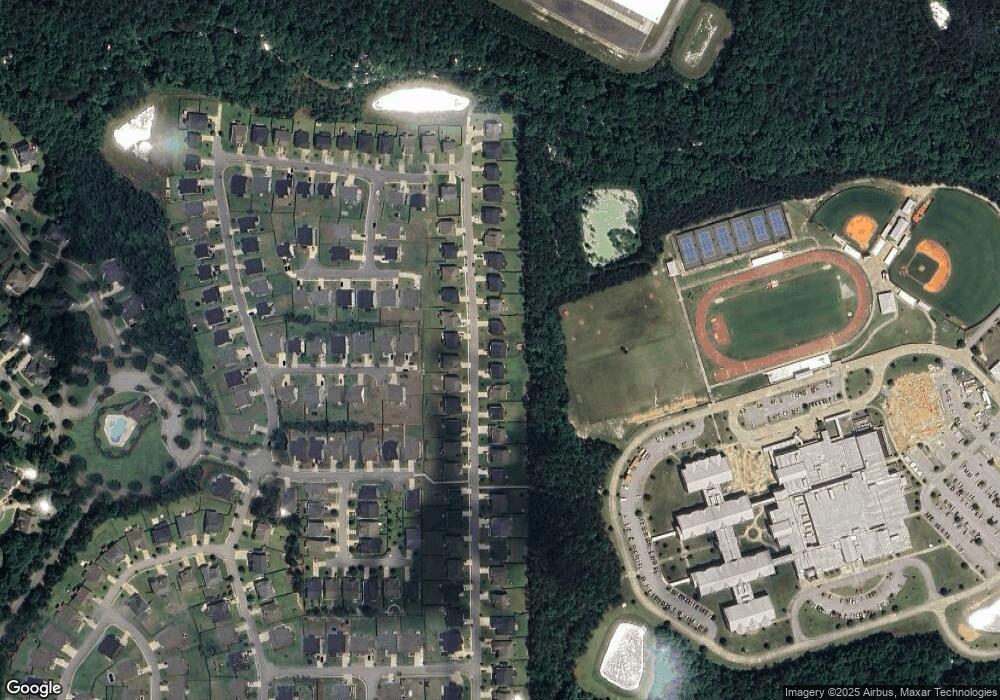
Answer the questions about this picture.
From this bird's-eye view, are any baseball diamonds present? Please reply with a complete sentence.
Yes, this view includes a baseball diamond.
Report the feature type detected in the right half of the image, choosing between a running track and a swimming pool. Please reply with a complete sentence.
The one visible in the right half of the image is a running track.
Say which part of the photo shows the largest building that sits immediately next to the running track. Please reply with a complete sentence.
Look in the bottom right portion of the view to spot the largest building that sits immediately next to the running track.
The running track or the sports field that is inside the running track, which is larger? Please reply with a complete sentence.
The running track takes up more space than the sports field does.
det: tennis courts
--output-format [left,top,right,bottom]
[751,215,770,242]
[697,230,716,259]
[715,226,733,253]
[680,237,698,265]
[769,210,787,237]
[732,220,751,248]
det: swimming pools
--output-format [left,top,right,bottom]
[105,671,115,684]
[104,415,137,447]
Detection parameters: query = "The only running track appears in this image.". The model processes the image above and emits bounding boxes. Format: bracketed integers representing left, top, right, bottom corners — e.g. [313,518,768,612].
[695,248,872,377]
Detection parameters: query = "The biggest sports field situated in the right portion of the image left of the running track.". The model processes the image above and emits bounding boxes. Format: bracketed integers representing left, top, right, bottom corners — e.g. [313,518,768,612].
[558,277,706,426]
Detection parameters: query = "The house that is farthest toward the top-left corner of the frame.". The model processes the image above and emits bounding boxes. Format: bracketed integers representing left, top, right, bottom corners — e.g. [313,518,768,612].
[16,140,34,167]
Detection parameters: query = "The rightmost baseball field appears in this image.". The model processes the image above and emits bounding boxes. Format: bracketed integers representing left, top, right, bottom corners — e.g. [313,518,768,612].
[889,188,1000,329]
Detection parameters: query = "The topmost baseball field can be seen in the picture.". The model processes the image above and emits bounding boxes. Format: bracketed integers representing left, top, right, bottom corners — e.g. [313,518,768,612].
[811,187,902,253]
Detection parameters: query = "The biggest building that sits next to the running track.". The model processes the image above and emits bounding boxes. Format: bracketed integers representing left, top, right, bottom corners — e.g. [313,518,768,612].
[652,408,912,634]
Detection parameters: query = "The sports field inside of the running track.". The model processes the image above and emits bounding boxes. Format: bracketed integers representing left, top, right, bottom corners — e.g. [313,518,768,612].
[720,271,840,351]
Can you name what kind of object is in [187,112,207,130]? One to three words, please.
house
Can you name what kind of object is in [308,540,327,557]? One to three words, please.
house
